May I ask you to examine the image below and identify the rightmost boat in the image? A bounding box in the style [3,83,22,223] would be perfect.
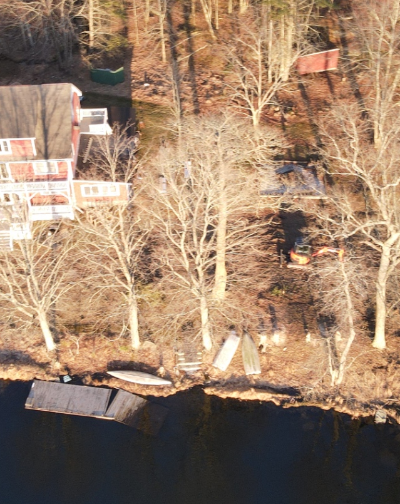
[241,331,262,375]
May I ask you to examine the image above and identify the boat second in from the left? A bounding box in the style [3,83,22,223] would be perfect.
[212,332,241,371]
